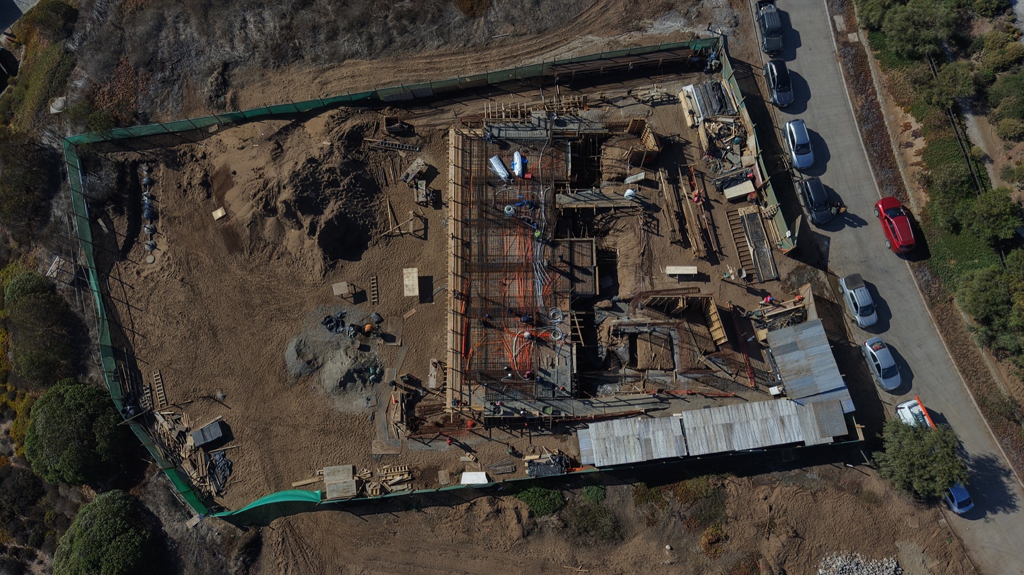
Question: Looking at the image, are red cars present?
Yes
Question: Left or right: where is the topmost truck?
right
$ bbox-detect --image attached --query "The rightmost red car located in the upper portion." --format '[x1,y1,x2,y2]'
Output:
[871,198,917,256]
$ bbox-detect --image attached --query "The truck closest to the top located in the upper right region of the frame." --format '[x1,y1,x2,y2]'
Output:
[752,0,784,54]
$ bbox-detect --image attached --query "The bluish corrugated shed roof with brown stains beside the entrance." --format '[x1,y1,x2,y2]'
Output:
[760,319,857,416]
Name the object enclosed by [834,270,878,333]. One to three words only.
truck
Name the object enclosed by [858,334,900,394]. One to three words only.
car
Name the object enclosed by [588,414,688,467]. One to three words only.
shed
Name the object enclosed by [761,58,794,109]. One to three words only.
car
